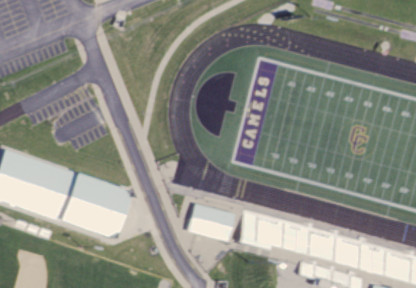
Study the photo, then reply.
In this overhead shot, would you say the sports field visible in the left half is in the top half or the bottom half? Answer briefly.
bottom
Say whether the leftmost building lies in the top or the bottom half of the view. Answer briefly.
bottom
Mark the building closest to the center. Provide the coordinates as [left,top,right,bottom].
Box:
[184,204,236,242]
